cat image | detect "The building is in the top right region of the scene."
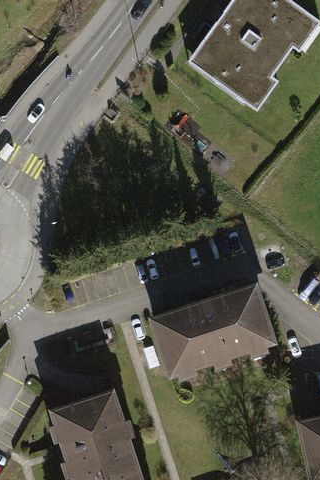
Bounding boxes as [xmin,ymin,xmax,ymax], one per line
[189,0,320,114]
